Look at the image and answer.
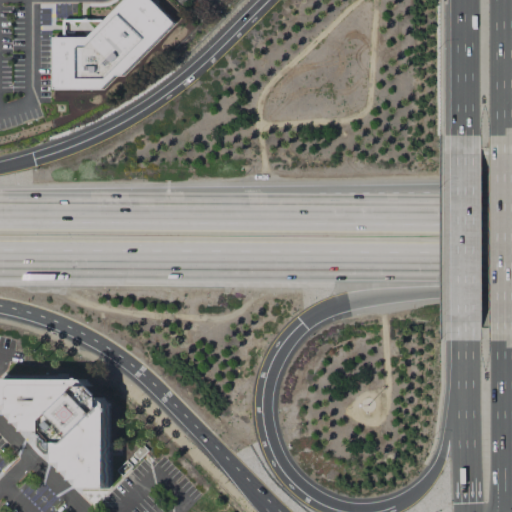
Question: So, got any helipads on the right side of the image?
No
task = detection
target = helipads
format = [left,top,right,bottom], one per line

[43,390,86,436]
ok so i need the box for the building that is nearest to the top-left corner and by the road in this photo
[52,0,177,91]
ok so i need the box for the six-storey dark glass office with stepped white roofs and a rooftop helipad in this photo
[0,380,110,498]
